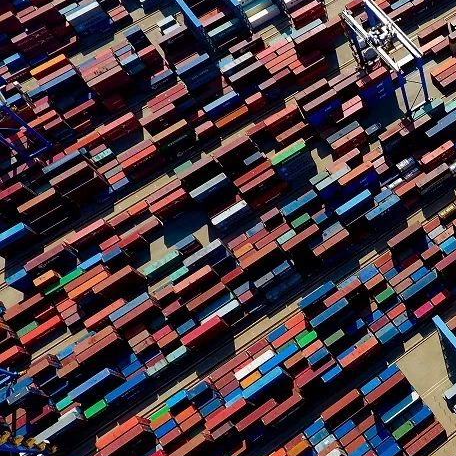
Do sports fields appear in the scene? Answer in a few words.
No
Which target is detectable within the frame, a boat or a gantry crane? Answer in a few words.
gantry crane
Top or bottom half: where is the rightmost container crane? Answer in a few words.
top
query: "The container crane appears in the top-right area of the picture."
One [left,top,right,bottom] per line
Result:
[343,0,433,119]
